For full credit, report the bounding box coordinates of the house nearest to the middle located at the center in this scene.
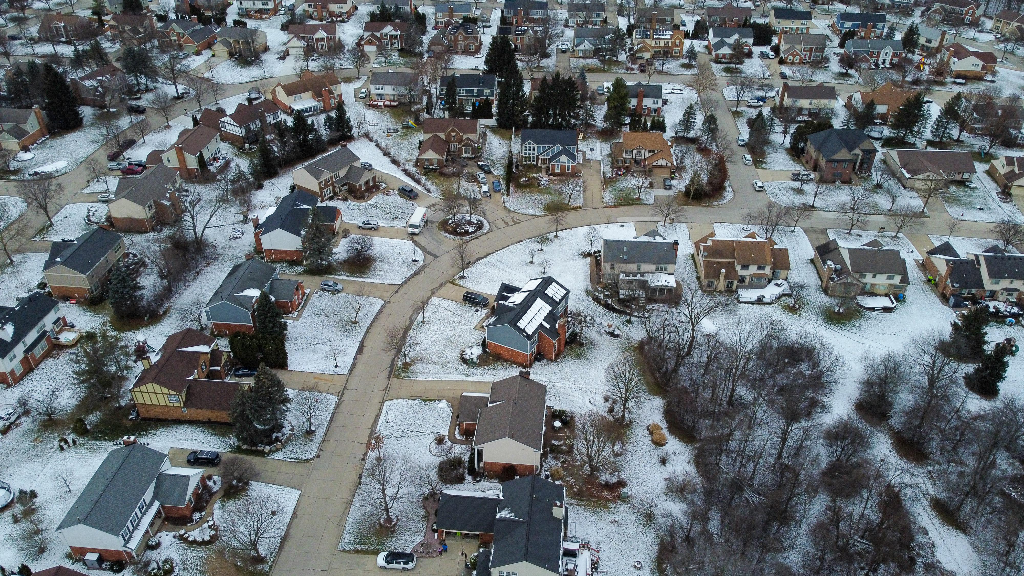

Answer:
[485,275,572,366]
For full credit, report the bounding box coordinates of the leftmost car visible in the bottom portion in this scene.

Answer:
[183,448,222,466]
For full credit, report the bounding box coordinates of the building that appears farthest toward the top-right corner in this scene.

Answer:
[992,10,1024,43]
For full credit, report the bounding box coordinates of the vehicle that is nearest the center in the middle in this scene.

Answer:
[461,289,490,306]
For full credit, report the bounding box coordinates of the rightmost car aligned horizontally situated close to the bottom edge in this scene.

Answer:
[375,550,417,571]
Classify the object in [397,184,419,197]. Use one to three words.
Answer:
vehicle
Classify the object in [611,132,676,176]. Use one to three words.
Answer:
house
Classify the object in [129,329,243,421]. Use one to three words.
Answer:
house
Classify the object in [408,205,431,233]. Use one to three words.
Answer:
truck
